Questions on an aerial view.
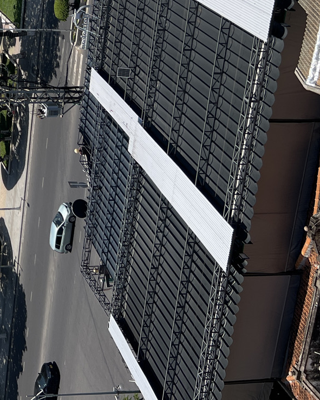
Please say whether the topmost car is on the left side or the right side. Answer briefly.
left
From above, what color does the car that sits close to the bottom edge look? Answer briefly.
black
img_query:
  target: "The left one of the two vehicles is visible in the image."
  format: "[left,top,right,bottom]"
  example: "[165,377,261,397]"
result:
[32,356,57,400]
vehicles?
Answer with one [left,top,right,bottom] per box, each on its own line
[44,196,74,253]
[32,356,57,400]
